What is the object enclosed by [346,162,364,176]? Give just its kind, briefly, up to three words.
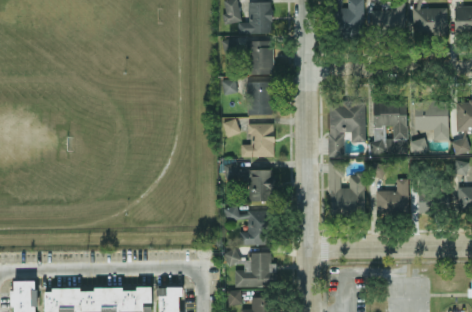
swimming pool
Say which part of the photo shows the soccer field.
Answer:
left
